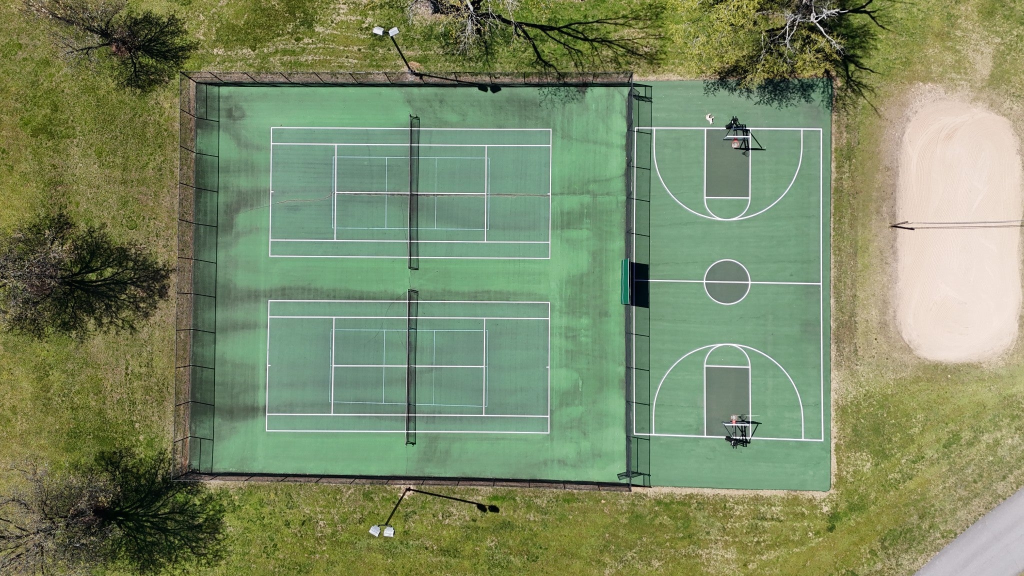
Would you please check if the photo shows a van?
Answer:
No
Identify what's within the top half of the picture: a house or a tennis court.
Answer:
tennis court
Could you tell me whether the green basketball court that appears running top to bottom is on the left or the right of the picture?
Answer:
right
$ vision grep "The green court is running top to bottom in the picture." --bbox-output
[632,78,834,491]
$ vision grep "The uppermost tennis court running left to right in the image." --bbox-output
[269,127,552,259]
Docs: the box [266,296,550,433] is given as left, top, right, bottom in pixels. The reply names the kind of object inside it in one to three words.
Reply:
tennis court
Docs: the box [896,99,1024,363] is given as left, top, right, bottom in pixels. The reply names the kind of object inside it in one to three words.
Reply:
sports court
